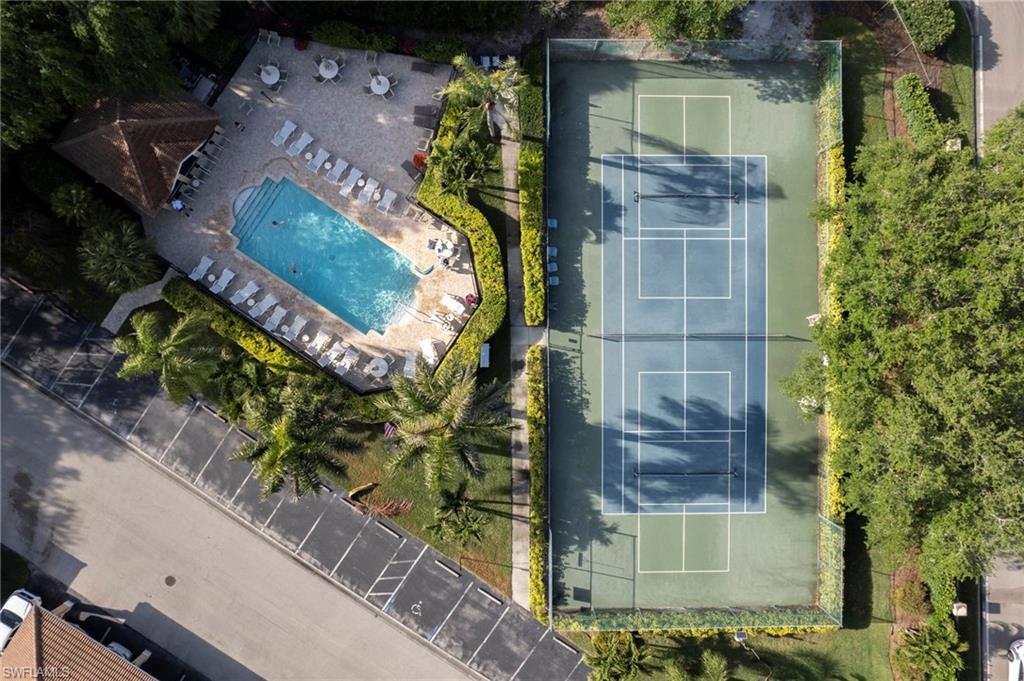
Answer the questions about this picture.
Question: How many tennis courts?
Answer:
1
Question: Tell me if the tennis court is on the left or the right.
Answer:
right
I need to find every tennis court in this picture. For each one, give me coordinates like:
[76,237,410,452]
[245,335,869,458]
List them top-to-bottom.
[548,61,818,605]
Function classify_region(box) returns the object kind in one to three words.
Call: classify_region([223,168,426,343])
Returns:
swimming pool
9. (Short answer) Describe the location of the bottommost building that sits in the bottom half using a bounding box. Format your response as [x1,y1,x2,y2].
[0,599,163,681]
